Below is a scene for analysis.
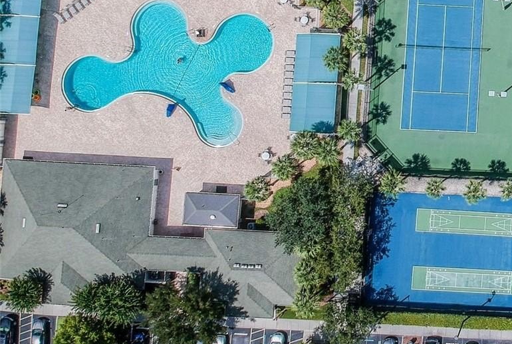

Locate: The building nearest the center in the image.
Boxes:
[182,191,241,227]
